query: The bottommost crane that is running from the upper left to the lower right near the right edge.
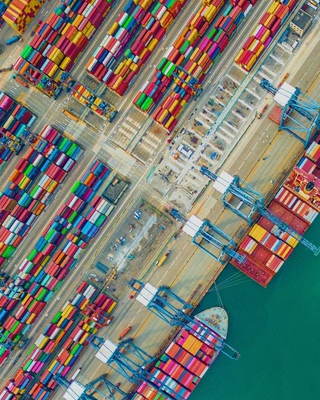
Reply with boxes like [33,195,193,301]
[200,165,320,257]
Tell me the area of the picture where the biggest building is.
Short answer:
top right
